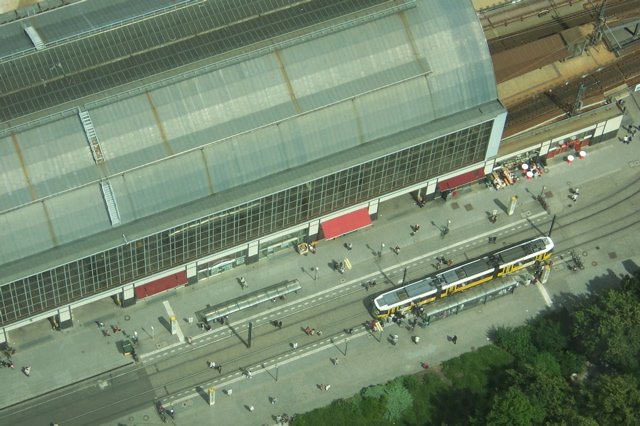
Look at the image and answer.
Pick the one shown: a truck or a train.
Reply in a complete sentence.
Of the two, only a train appears.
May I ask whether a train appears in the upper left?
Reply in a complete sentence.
No, no train appears in the upper left.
